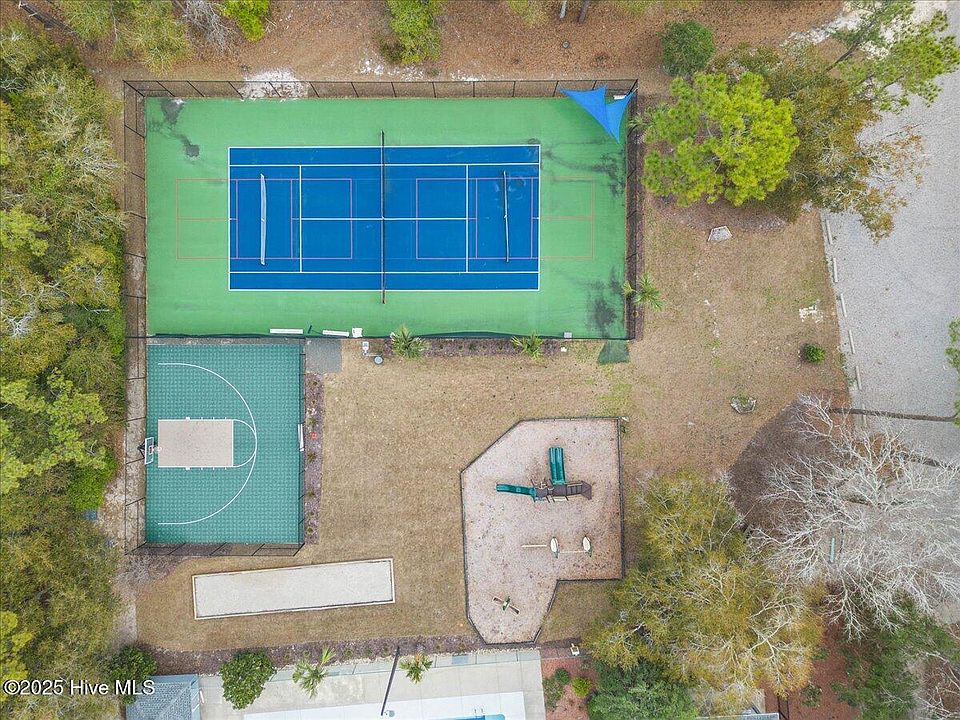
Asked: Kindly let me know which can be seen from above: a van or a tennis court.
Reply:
tennis court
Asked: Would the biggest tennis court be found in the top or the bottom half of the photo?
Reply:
top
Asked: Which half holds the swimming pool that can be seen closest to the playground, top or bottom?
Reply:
bottom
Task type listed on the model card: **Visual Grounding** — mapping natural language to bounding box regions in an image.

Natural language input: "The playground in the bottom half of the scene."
[461,418,623,645]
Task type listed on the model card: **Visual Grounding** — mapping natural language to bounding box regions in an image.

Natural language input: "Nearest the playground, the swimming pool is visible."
[200,651,547,720]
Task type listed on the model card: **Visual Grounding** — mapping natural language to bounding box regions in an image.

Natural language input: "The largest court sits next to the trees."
[146,96,631,336]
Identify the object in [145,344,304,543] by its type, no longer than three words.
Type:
basketball court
